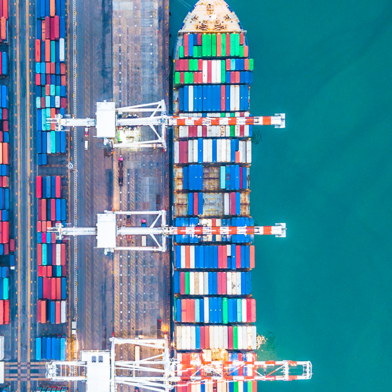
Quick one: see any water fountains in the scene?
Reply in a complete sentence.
No, I can see no water fountain in this picture.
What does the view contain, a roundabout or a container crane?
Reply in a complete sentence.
I can see a container crane in this picture.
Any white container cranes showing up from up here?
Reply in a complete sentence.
Yes, you can see a white container crane in this photo.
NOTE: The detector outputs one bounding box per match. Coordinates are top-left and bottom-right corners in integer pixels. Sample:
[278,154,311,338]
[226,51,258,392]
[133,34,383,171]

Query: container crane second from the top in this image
[46,207,285,254]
